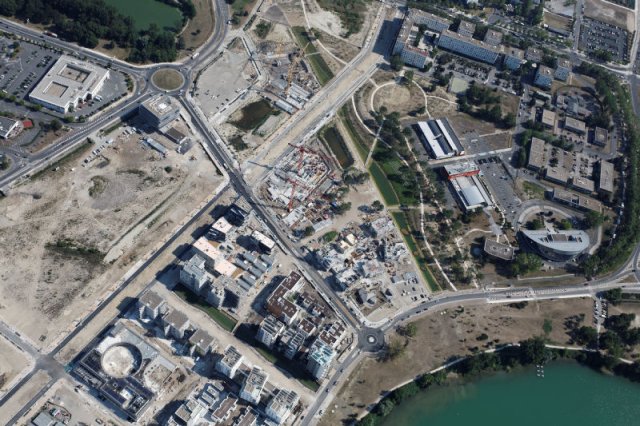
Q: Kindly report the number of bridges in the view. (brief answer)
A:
0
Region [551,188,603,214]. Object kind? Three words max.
building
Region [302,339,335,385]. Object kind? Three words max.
house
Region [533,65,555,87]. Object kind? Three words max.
building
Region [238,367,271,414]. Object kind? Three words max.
house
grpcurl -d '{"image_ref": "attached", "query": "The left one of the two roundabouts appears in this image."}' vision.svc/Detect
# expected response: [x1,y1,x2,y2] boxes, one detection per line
[141,61,194,98]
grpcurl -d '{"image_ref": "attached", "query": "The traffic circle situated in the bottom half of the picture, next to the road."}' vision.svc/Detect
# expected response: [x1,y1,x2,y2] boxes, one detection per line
[355,325,386,354]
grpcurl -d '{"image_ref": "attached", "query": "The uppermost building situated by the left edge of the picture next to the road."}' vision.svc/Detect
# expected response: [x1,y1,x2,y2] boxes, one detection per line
[29,54,109,114]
